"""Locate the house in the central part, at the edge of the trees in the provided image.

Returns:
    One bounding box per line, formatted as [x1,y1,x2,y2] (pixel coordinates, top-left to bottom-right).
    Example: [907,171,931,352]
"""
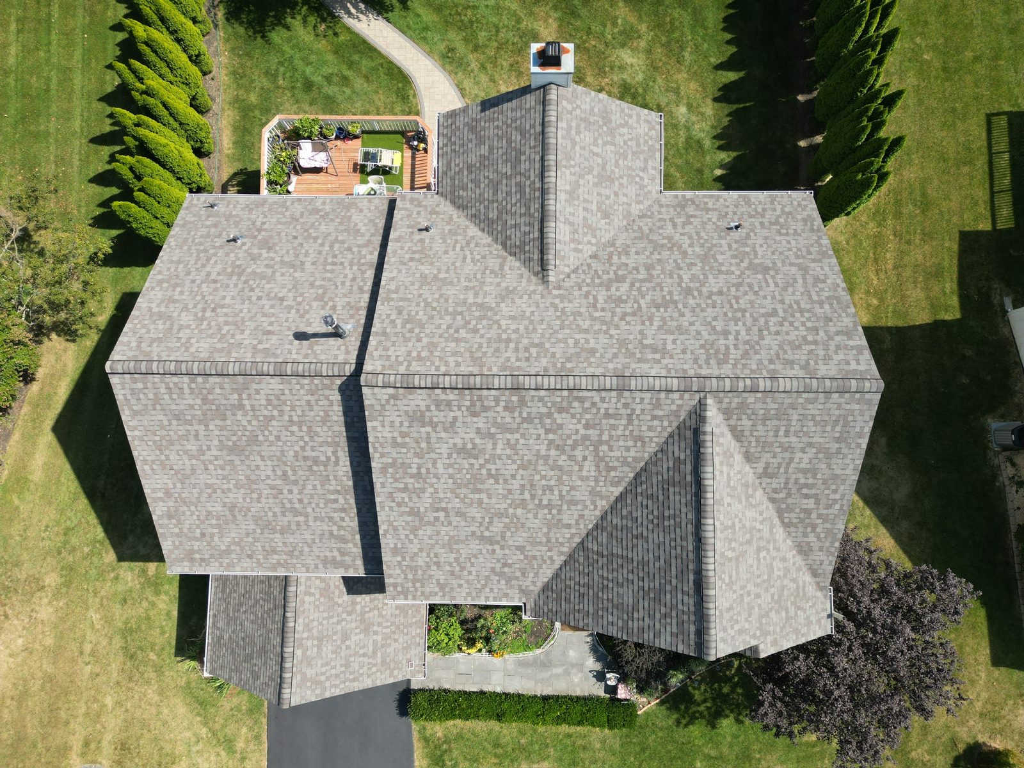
[104,38,885,708]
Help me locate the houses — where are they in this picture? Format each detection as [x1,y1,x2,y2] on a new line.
[104,38,885,708]
[1003,297,1024,387]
